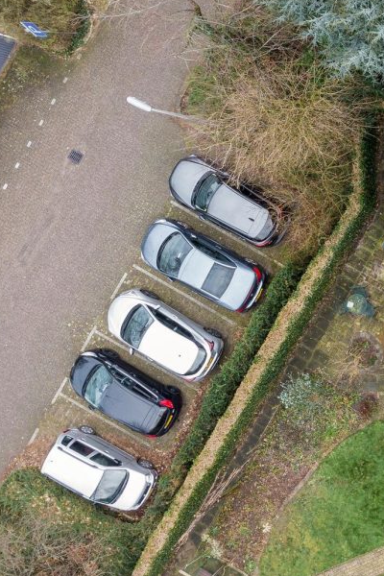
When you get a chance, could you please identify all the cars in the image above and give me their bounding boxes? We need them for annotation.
[111,287,231,384]
[169,152,293,247]
[72,344,191,440]
[27,425,165,514]
[141,215,273,314]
